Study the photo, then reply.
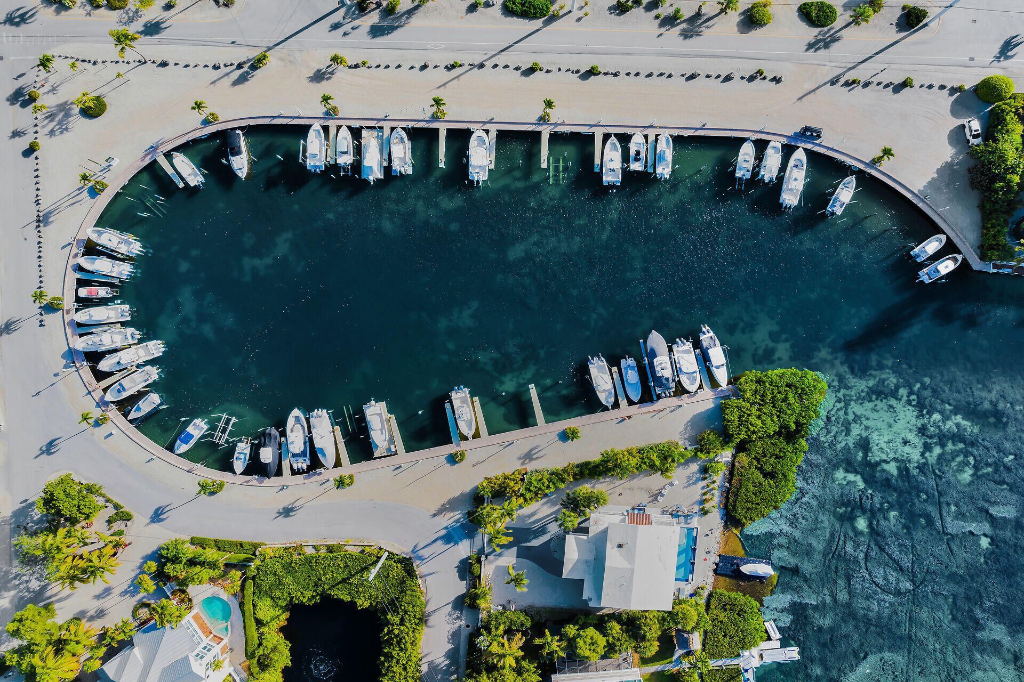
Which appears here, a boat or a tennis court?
boat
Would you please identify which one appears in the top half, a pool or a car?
car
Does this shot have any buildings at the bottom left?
Yes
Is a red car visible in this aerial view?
No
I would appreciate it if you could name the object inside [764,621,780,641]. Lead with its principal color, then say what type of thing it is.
white boat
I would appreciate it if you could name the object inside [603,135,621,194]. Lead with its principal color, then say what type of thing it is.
white boat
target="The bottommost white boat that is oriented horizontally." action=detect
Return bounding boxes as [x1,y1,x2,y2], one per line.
[763,644,805,661]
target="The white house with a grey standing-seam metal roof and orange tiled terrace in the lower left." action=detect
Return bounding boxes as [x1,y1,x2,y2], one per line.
[94,601,234,682]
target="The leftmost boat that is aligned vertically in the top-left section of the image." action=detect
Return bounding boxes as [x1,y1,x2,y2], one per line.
[222,129,249,179]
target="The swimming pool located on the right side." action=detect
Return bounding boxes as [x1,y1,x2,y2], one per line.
[674,526,698,585]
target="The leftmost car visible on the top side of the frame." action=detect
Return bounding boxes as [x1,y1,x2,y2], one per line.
[797,123,824,139]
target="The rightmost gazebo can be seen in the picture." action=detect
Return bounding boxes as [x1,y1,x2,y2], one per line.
[674,628,700,649]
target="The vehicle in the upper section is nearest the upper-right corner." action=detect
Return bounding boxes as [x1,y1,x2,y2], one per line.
[962,116,982,147]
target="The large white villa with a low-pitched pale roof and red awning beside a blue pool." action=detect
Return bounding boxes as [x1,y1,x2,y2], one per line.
[561,507,680,610]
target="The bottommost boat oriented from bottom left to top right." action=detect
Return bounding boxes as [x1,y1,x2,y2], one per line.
[173,414,211,454]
